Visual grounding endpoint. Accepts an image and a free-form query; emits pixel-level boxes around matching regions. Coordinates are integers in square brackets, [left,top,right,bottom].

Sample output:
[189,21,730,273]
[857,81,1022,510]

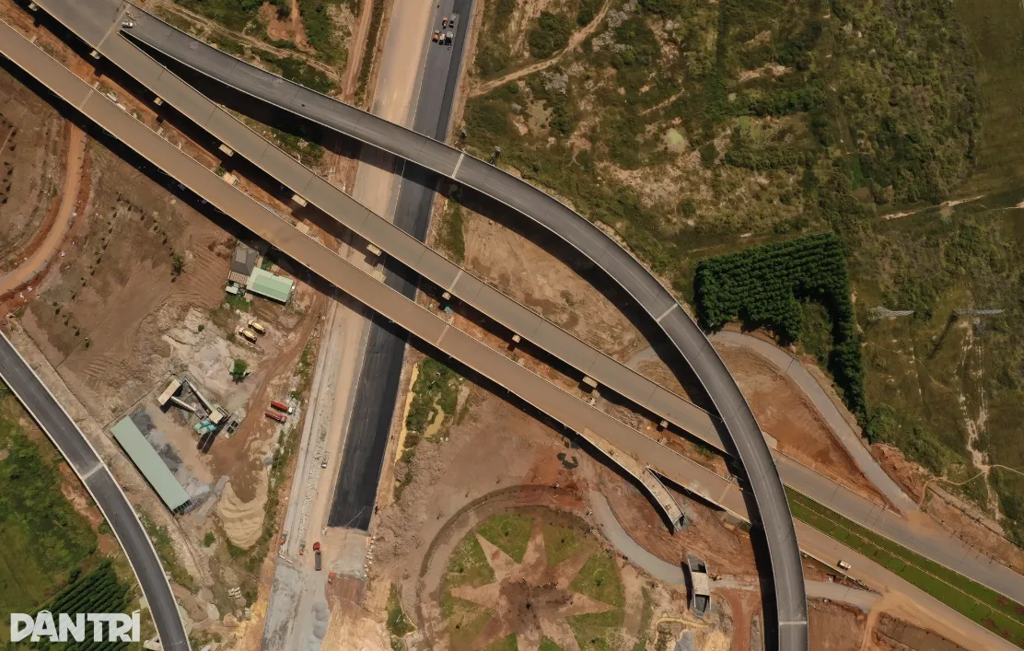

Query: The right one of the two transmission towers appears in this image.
[949,307,1007,319]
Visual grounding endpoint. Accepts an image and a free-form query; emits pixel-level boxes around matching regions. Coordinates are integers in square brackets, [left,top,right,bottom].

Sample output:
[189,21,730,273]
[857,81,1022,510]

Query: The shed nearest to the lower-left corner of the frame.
[111,414,197,513]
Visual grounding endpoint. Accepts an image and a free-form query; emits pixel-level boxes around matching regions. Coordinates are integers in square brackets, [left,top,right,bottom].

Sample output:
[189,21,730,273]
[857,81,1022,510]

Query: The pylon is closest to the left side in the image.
[863,302,915,326]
